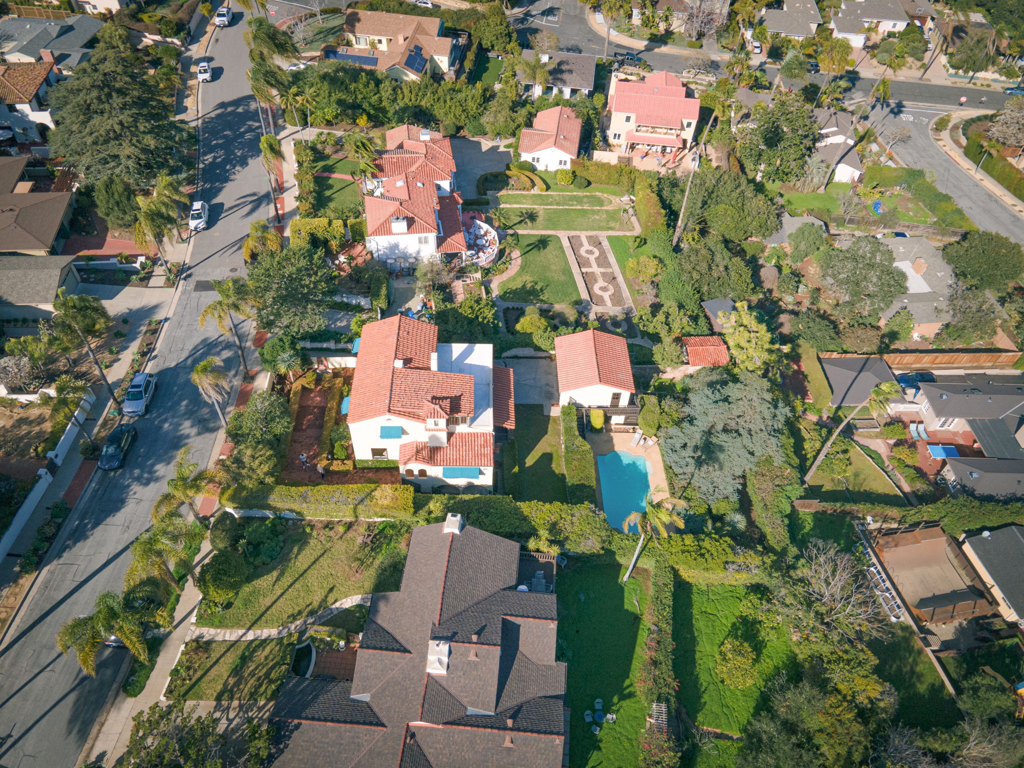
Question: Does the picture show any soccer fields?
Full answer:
No, I can see no soccer field in this picture.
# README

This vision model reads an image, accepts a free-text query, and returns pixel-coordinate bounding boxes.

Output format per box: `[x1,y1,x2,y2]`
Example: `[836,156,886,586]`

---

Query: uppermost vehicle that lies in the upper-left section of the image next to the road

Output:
[216,6,231,22]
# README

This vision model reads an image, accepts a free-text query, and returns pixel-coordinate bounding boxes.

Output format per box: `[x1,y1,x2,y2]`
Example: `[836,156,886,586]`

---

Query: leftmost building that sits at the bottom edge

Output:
[236,511,570,768]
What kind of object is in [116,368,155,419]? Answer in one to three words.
car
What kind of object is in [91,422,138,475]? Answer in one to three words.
car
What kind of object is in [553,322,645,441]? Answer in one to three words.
building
